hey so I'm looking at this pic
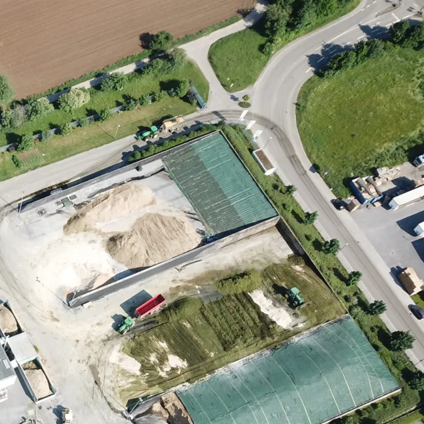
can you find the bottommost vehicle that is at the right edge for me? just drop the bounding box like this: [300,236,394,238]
[409,303,424,319]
